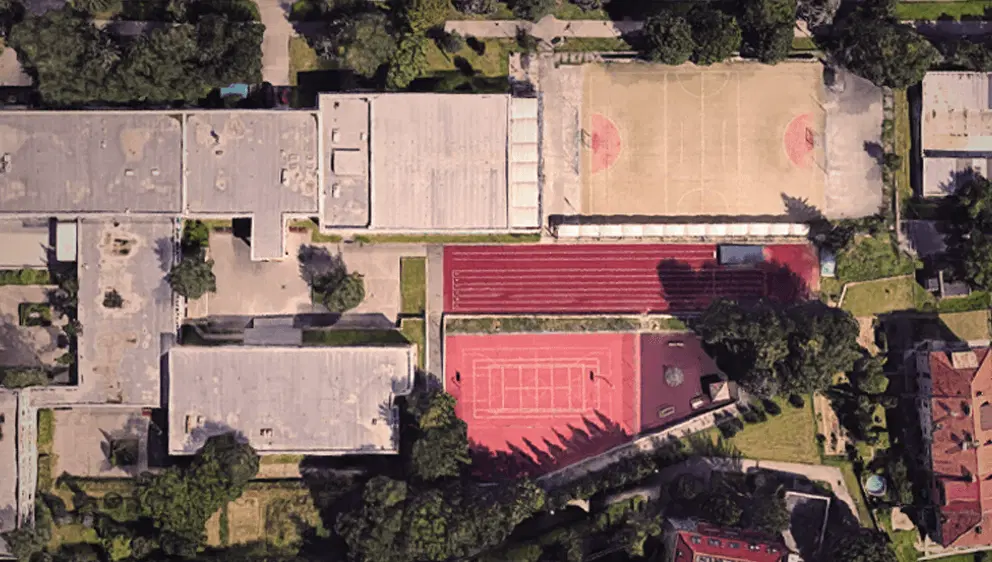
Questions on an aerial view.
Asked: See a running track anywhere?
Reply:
Yes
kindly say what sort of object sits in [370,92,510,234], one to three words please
building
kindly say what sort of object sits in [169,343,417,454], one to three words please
building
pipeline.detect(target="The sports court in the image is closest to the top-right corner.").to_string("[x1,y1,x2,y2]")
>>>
[581,61,826,218]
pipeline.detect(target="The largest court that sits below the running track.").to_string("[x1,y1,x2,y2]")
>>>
[446,333,637,484]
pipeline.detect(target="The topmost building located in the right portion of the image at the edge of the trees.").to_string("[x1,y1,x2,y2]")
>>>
[914,71,992,153]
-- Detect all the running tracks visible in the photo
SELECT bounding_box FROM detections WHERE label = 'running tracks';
[444,245,820,311]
